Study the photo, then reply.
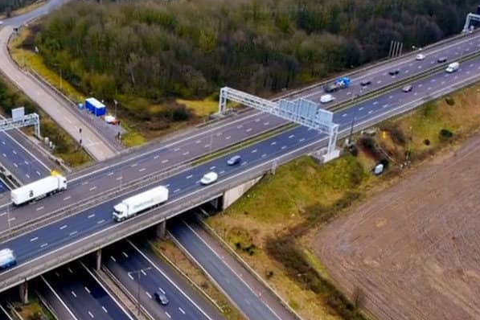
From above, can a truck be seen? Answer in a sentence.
Yes, you can see a truck in this photo.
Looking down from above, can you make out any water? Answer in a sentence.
No, no water is visible.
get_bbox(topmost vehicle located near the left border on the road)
[14,176,69,206]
